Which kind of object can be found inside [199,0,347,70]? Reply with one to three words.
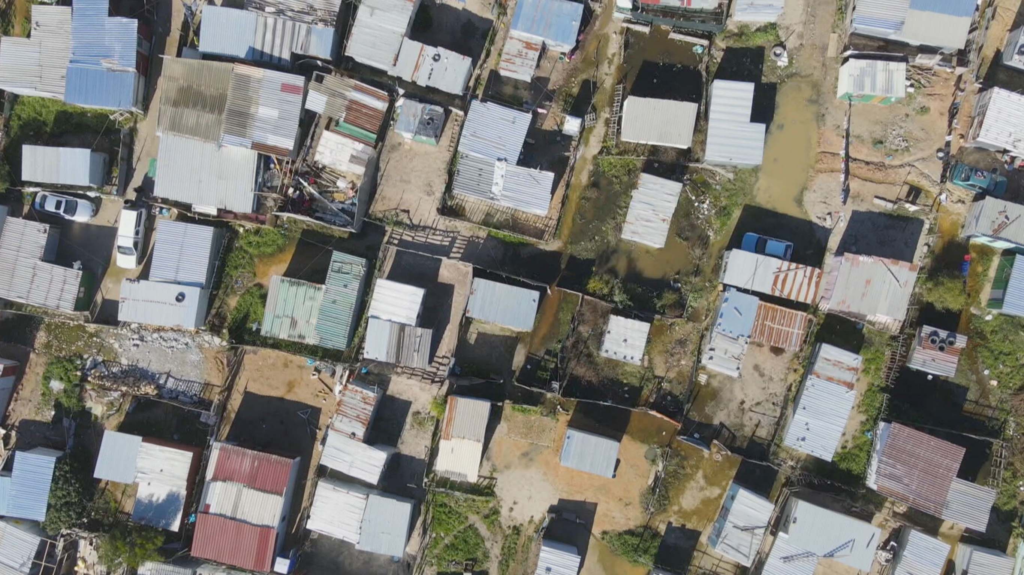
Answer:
shed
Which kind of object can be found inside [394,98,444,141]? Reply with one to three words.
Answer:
shed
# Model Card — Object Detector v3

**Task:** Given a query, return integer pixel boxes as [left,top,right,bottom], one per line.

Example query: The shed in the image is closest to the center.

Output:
[466,278,540,331]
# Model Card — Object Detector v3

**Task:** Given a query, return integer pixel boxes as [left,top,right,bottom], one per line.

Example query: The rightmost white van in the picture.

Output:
[115,207,150,271]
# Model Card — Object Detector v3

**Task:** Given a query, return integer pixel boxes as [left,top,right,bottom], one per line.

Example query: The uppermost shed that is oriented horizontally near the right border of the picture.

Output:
[840,0,977,57]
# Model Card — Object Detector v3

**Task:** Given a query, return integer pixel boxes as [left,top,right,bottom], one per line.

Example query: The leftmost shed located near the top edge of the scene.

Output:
[0,5,72,101]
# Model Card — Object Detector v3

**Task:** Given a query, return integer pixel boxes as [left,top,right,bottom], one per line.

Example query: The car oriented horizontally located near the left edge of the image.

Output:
[35,191,102,224]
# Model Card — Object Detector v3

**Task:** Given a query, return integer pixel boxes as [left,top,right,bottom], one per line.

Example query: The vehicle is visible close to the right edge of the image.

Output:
[943,161,1008,197]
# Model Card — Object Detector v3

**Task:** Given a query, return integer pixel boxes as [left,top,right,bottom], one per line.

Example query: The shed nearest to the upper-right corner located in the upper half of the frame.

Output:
[986,19,1024,86]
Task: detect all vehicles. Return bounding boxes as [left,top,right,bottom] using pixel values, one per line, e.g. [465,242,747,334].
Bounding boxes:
[115,207,150,271]
[943,161,1008,197]
[35,191,102,224]
[736,234,794,262]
